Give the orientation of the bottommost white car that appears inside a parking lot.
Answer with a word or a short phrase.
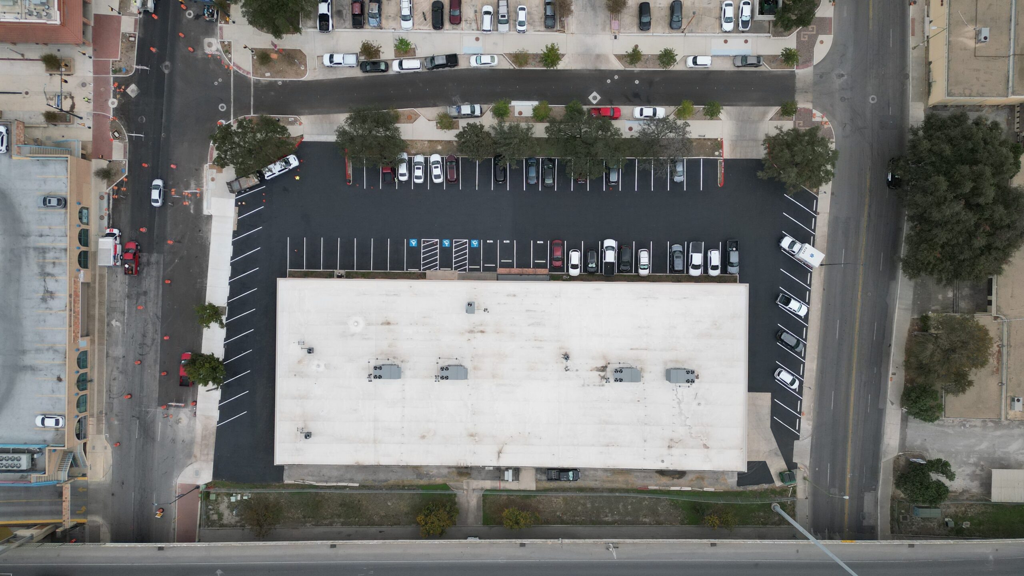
diagonally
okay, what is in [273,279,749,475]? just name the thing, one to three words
building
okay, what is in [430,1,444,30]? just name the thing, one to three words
car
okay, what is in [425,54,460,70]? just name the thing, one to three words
vehicle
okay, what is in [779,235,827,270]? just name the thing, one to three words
van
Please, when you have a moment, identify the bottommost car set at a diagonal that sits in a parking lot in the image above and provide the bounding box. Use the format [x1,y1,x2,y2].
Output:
[772,367,800,390]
